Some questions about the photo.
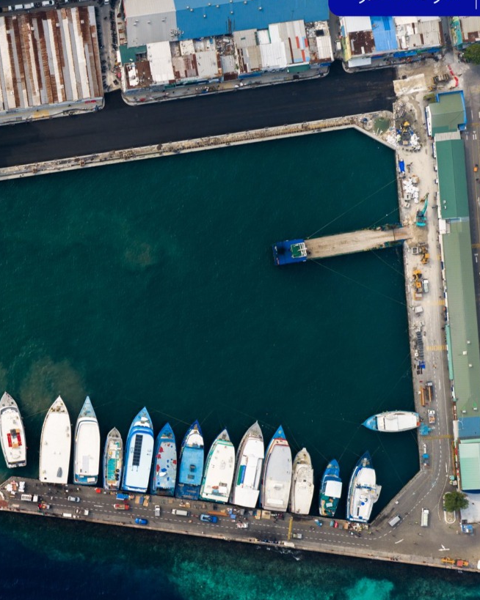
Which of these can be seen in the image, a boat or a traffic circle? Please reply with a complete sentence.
The image shows a boat.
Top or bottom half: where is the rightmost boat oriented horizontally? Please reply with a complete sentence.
Seen from above, the rightmost boat oriented horizontally lies in the bottom half of the view.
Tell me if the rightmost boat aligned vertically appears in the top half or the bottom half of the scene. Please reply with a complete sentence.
The rightmost boat aligned vertically sits in the bottom half of the picture.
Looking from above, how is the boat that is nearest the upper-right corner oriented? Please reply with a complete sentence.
The boat that is nearest the upper-right corner has been laid out from side to side relative to the frame.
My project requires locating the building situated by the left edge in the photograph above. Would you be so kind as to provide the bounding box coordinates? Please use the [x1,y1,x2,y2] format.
[0,5,103,119]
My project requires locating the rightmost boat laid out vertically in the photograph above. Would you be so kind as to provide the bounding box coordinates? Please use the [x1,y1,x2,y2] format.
[343,451,378,523]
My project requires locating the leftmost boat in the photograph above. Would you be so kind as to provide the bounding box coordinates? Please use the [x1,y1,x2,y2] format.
[0,392,29,466]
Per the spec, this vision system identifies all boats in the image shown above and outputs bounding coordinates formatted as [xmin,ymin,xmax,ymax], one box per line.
[40,395,73,485]
[315,458,340,515]
[102,426,122,488]
[0,392,29,466]
[268,231,402,265]
[343,451,378,523]
[358,410,417,433]
[198,428,234,502]
[231,421,263,510]
[175,420,204,498]
[120,407,155,493]
[72,396,100,483]
[258,424,294,512]
[290,448,311,513]
[150,422,177,493]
